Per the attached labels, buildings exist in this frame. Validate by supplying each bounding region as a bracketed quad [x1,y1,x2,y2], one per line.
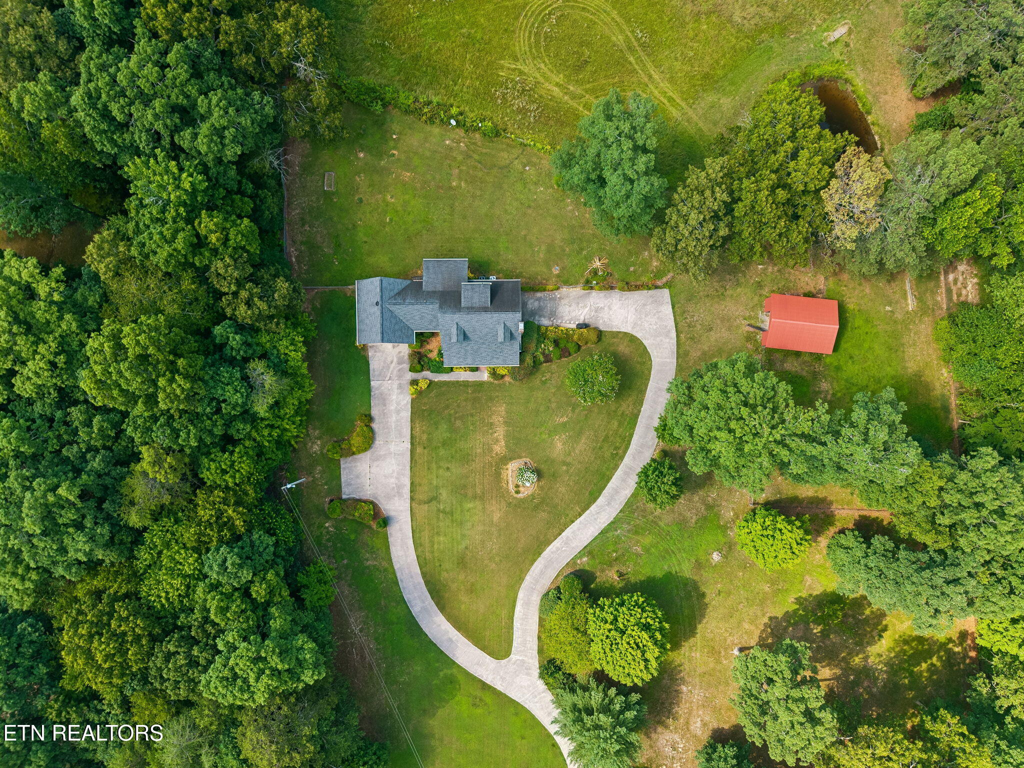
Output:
[356,258,524,369]
[757,294,839,354]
